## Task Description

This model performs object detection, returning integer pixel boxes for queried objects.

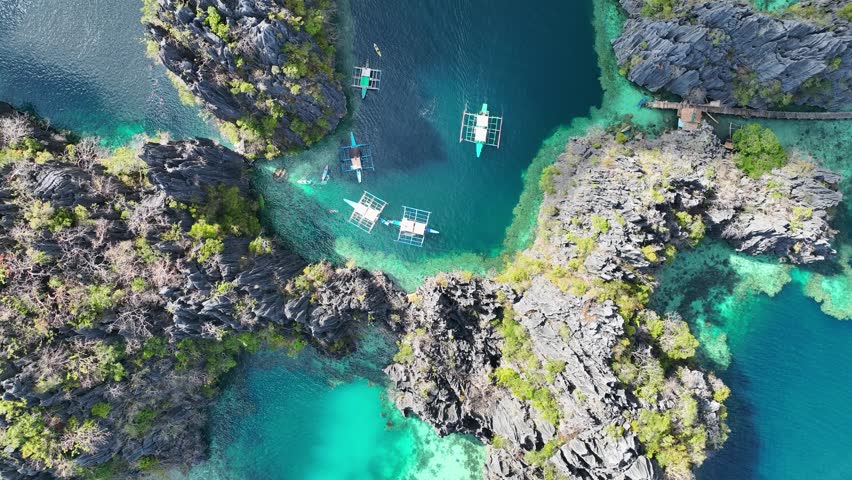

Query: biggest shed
[673,111,703,132]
